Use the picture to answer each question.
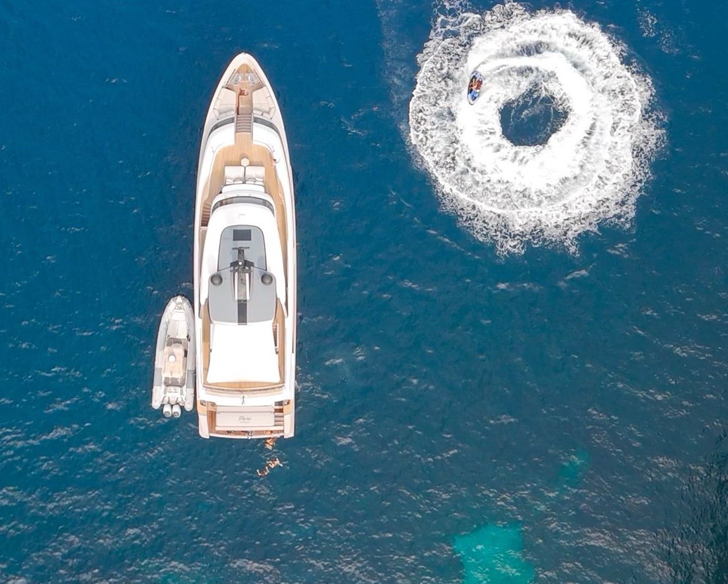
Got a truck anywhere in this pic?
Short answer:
No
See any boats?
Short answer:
Yes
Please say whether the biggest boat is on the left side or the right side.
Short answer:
left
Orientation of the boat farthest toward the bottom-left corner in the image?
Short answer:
from top to bottom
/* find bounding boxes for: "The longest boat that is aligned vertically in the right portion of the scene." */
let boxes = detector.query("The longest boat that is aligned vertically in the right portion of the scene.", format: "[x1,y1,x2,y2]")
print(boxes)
[468,70,484,104]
